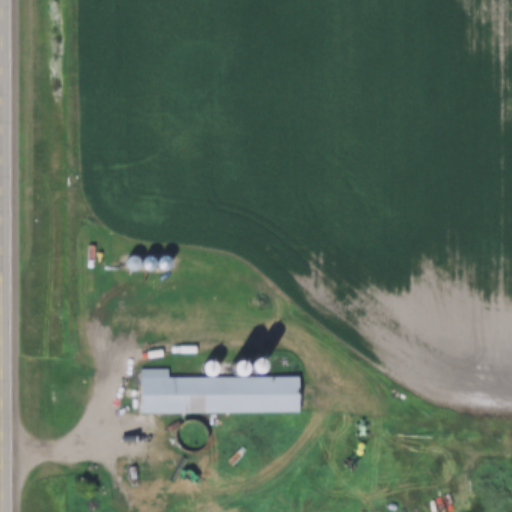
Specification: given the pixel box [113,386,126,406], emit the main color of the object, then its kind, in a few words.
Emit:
white vehicle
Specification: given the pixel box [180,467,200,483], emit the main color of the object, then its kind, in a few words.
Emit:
green work vehicle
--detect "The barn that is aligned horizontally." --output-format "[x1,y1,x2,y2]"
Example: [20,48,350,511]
[140,368,302,418]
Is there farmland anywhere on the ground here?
Yes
